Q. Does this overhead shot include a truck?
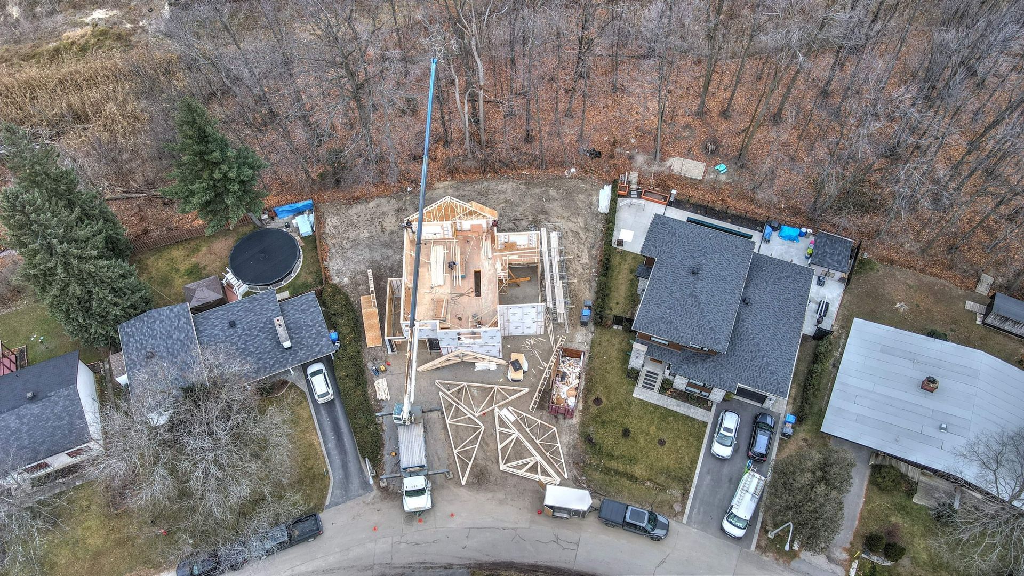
Yes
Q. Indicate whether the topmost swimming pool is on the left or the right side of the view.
right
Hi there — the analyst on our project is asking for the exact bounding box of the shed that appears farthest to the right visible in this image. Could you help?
[972,292,1024,355]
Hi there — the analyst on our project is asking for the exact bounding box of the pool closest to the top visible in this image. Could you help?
[686,216,754,240]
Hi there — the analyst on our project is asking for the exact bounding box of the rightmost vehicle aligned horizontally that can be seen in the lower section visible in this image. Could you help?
[594,497,671,541]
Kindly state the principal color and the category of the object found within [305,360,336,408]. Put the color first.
white car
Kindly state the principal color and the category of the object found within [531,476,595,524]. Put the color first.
white trailer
